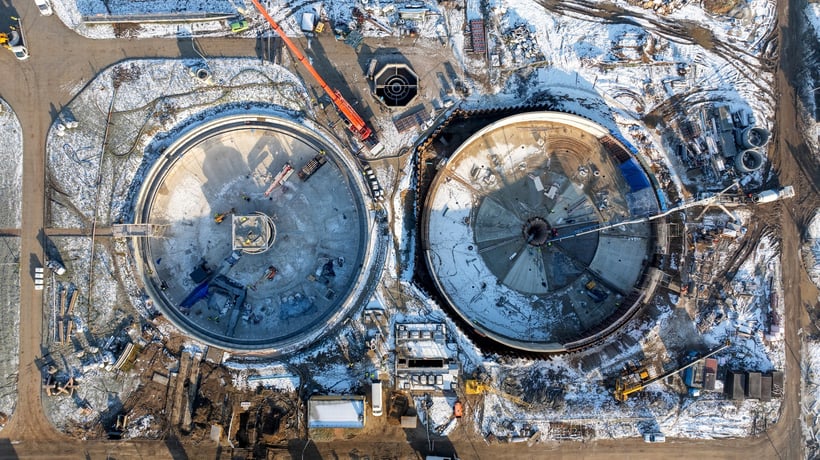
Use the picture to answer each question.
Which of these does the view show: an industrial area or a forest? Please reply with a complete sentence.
The area seen from above is an industrial area.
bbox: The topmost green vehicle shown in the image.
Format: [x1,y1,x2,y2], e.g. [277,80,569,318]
[229,17,248,31]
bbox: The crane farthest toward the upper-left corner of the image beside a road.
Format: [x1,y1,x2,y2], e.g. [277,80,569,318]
[254,0,394,159]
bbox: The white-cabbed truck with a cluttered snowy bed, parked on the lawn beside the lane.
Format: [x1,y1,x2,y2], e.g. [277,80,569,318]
[37,253,66,279]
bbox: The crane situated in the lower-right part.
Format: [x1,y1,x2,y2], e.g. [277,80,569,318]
[615,345,730,398]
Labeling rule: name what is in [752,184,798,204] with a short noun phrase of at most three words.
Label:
vehicle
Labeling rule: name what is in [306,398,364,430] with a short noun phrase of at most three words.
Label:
shed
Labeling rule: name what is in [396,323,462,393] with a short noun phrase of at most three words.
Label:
building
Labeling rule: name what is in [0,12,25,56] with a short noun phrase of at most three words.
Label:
truck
